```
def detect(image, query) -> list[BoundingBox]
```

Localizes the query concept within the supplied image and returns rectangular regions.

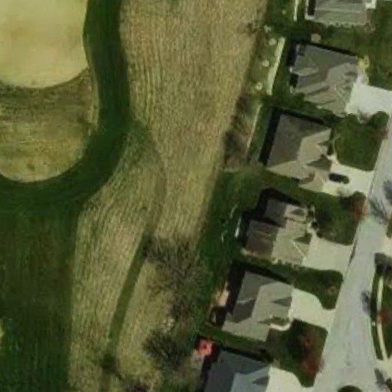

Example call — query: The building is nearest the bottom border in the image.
[210,350,275,392]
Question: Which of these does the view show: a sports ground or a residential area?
residential area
